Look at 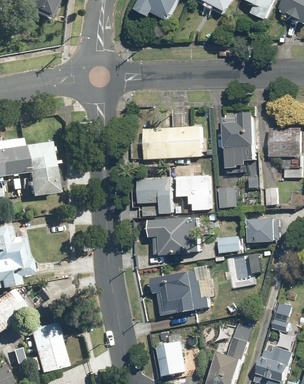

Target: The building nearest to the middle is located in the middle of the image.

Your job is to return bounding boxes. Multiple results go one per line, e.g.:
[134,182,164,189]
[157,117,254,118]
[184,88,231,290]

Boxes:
[136,176,176,216]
